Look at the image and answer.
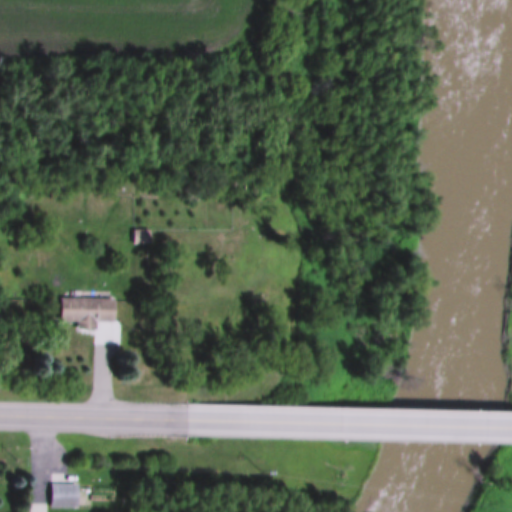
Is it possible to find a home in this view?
Yes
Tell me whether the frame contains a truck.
No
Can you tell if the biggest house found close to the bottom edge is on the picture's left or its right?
left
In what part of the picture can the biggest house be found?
left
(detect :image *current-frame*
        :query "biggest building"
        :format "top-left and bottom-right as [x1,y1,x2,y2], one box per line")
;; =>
[62,290,117,330]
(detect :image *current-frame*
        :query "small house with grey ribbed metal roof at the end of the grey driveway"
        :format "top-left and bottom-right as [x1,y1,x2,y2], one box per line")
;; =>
[50,472,79,510]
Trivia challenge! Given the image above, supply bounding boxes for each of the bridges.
[186,404,512,444]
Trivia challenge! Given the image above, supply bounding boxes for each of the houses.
[50,472,79,510]
[62,290,117,330]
